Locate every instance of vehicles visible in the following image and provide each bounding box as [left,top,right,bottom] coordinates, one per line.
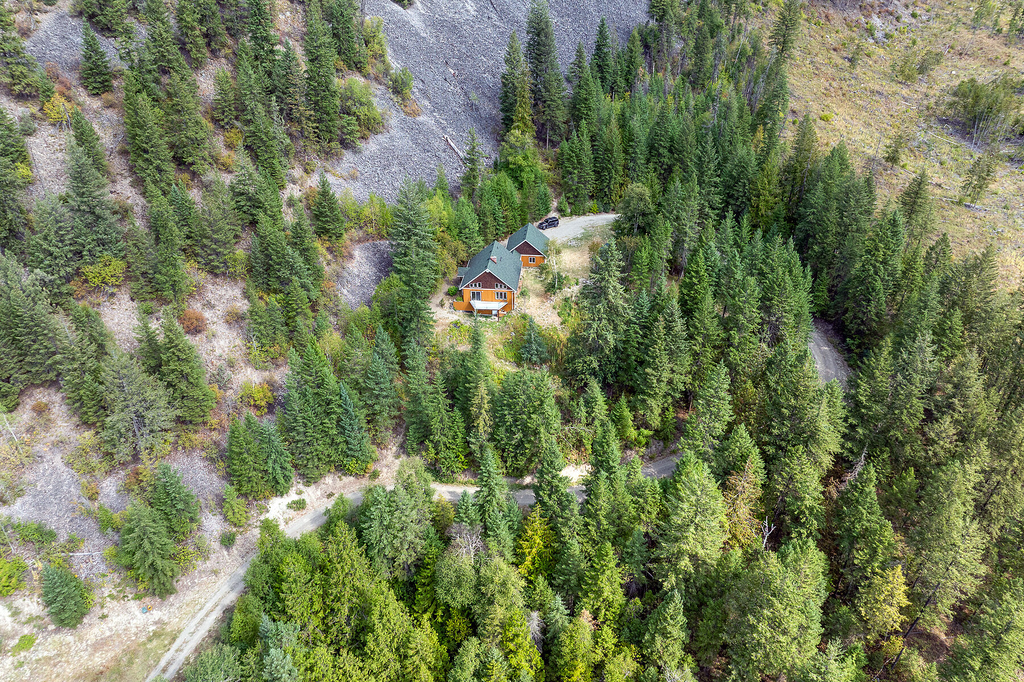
[539,215,563,231]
